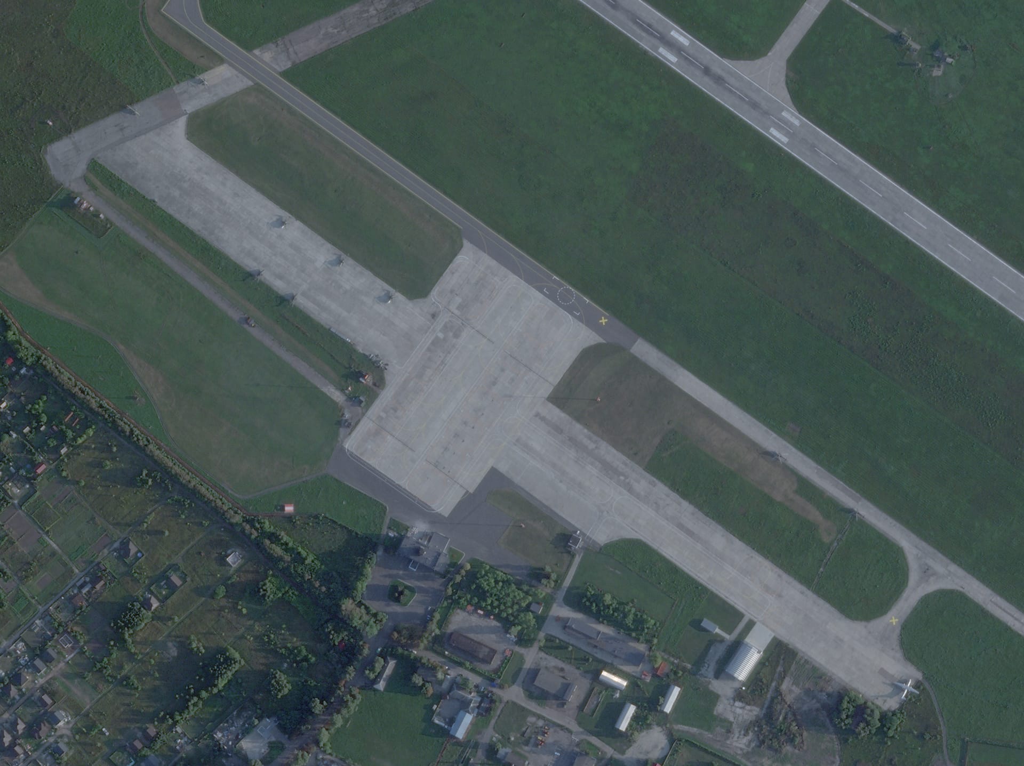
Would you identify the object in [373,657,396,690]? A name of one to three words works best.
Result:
house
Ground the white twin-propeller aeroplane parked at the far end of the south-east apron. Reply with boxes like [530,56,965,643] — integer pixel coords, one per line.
[895,679,920,700]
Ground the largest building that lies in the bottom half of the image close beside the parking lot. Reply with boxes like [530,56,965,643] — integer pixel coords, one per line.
[398,529,450,572]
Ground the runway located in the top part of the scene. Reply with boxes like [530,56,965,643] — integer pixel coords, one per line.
[580,0,1024,321]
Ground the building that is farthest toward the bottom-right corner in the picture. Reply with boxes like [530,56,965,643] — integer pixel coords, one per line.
[726,640,762,682]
